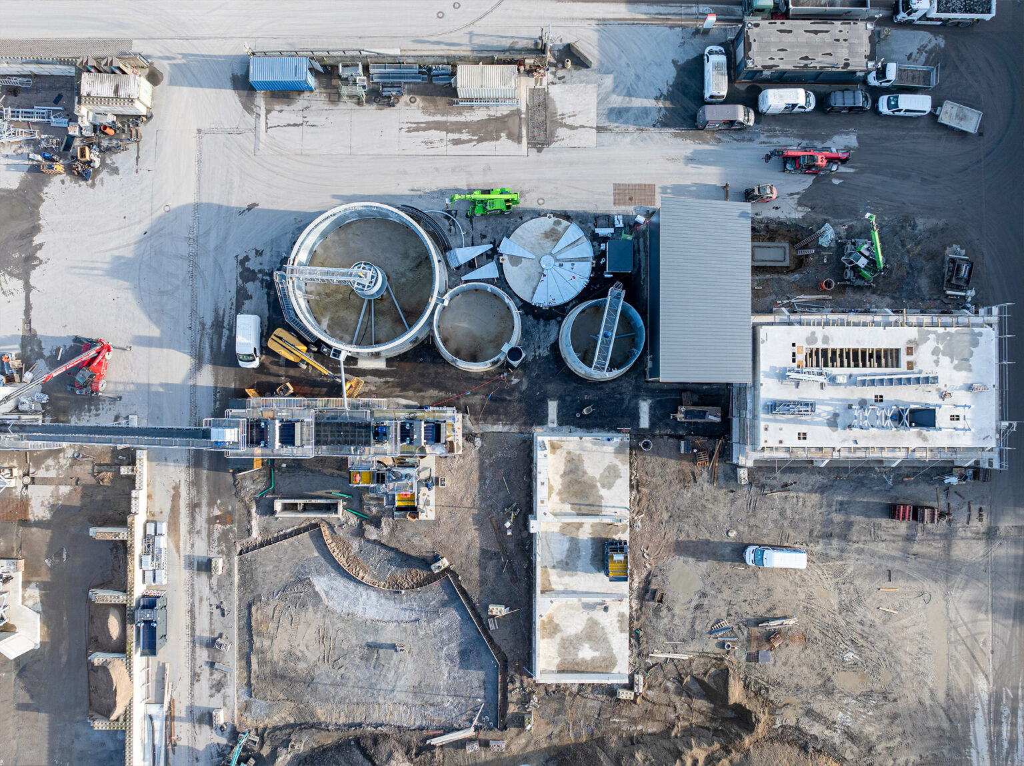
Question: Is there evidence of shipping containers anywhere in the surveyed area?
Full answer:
Yes, a shipping container can be made out from above.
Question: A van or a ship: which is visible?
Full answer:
The one in the frame is a van.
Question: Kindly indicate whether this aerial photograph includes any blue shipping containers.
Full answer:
Yes, the image includes a blue shipping container.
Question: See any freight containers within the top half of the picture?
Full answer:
Yes, looking within the top half of the picture, one can make out a freight container.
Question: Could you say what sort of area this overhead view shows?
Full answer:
It's an industrial area.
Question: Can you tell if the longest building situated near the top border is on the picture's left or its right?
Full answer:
The longest building situated near the top border sits on the right side.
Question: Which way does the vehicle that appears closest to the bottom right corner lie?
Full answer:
I'd say the vehicle that appears closest to the bottom right corner is aligned from side to side in the picture.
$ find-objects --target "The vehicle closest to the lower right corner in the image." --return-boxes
[738,541,809,568]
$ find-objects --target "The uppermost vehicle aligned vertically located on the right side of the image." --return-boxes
[701,50,726,106]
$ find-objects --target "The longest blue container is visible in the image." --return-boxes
[238,39,328,92]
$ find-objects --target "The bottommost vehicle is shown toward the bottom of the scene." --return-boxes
[216,722,262,766]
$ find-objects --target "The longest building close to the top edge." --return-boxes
[731,13,884,88]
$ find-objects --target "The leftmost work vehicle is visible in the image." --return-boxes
[0,332,133,405]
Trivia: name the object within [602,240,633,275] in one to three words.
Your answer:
shed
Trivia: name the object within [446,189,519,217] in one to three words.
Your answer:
work vehicle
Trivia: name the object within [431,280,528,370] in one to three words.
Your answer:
storage tank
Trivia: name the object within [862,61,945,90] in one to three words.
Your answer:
truck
